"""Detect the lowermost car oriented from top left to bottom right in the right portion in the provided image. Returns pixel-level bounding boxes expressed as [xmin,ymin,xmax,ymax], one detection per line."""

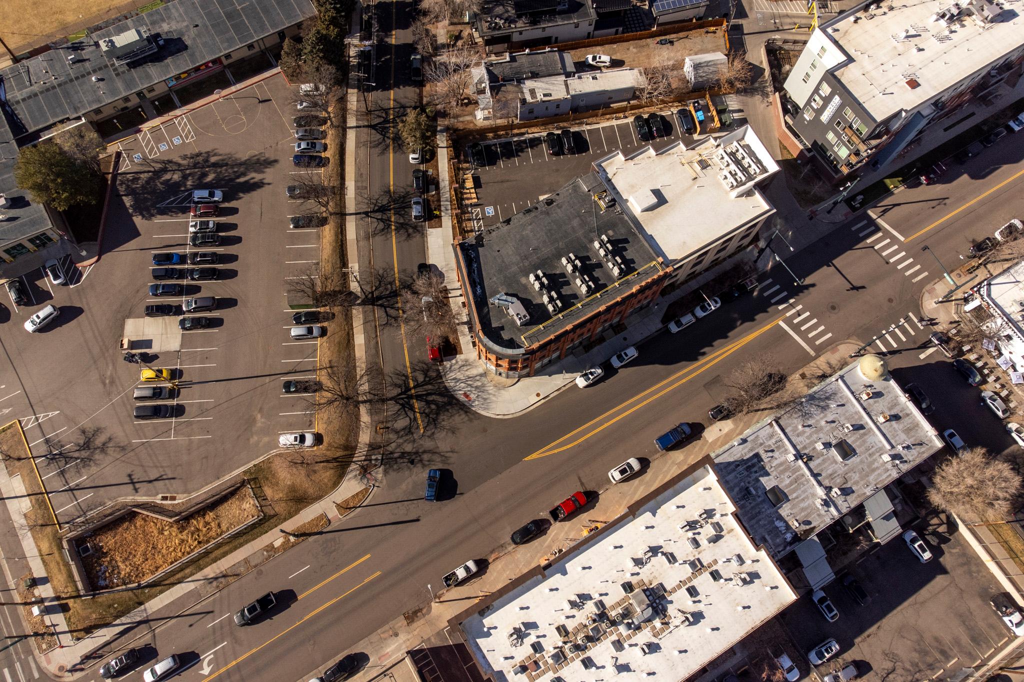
[771,648,804,682]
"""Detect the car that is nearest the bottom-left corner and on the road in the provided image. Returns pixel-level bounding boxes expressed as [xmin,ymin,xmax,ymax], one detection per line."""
[99,647,140,682]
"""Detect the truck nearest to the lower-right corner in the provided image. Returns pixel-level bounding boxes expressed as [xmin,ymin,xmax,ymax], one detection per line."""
[987,590,1024,634]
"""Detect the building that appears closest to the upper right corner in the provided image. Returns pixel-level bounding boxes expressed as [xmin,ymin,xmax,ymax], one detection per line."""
[785,0,1024,177]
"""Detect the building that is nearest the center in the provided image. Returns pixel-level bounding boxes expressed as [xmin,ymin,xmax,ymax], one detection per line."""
[448,171,675,385]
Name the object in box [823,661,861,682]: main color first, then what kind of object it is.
gray car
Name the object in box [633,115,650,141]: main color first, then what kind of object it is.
black car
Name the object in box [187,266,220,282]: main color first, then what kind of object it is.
black car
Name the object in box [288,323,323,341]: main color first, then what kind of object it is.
gray car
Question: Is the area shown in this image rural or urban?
urban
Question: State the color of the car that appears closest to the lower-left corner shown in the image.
black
